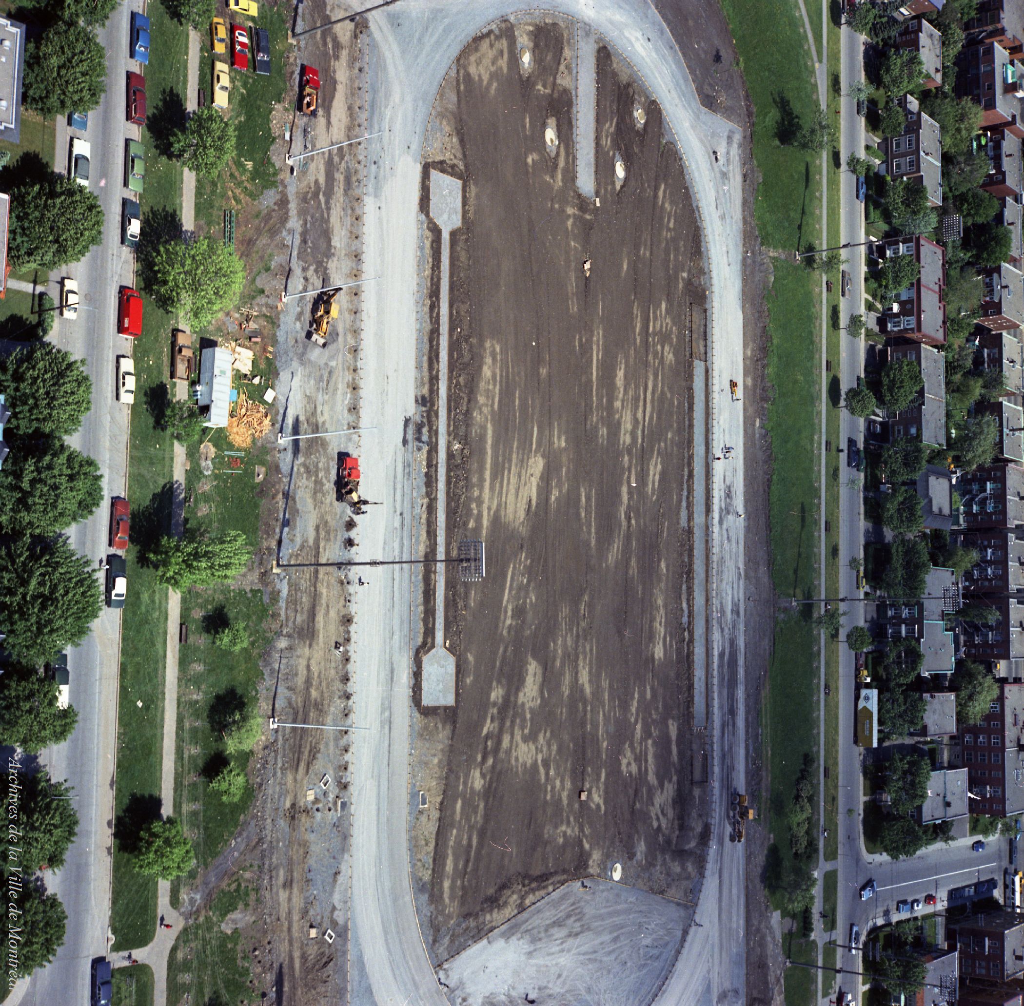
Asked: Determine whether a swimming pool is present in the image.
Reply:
No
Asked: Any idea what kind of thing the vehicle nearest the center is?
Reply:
truck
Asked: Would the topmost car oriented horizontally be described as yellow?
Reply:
Yes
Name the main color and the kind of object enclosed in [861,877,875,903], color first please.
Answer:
blue car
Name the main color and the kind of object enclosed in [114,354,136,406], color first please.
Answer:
white car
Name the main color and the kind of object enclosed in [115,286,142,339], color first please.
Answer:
red vehicle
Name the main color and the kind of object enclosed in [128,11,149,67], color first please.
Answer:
blue car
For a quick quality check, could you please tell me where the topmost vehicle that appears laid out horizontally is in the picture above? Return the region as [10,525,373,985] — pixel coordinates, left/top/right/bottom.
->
[223,0,263,20]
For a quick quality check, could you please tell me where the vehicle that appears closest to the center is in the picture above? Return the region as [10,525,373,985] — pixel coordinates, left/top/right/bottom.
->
[334,456,388,516]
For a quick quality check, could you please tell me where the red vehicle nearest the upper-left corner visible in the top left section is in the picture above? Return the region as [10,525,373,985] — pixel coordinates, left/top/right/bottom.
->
[125,70,147,126]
